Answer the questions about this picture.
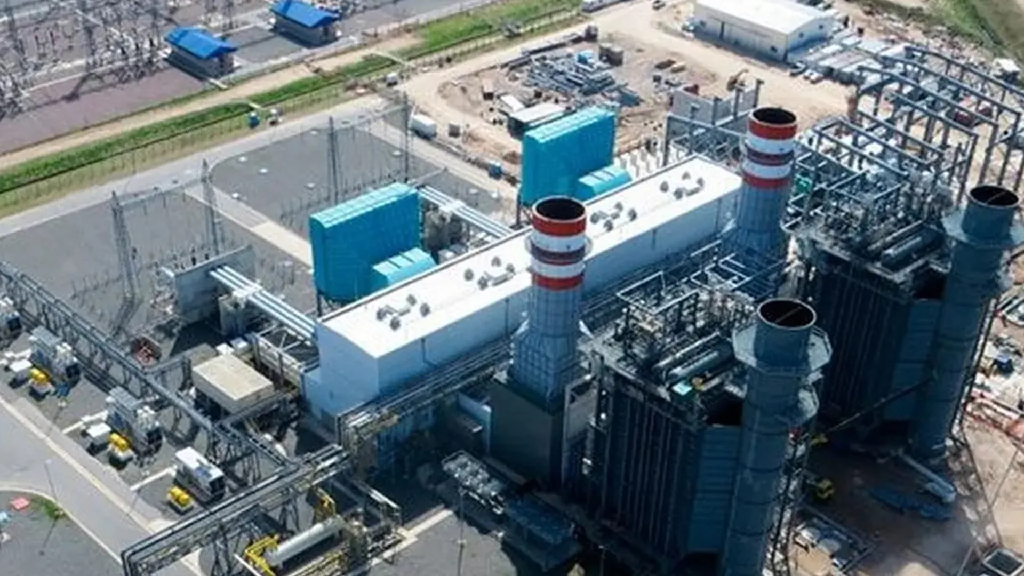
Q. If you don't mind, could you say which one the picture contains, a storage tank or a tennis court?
storage tank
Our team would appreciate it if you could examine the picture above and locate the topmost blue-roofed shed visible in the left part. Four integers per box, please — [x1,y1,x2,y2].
[269,1,338,45]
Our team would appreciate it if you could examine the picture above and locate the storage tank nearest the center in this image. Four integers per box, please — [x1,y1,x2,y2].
[424,211,466,250]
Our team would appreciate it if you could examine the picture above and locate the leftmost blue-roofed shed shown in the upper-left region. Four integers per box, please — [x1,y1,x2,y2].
[161,30,232,77]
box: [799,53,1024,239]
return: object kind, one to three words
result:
building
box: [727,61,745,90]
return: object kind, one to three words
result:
work vehicle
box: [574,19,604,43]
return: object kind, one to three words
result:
truck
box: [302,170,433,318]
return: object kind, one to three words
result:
house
